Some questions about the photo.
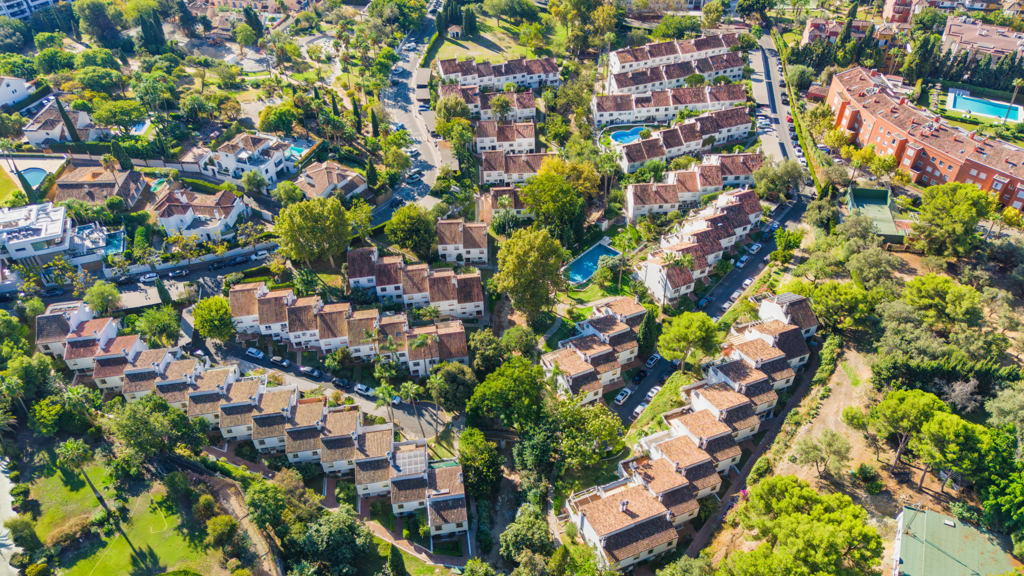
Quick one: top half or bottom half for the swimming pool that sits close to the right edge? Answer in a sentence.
The swimming pool that sits close to the right edge sits in the top half of the picture.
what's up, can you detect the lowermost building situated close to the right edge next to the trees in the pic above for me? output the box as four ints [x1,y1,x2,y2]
[889,506,1024,576]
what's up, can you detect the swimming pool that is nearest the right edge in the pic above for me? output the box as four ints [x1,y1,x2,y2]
[949,93,1022,121]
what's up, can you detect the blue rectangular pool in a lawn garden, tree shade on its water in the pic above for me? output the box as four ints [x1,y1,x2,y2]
[565,241,622,283]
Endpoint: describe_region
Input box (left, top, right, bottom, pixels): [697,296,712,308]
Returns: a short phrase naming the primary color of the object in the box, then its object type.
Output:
blue vehicle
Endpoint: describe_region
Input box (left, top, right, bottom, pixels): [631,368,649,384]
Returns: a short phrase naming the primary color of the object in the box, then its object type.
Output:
black car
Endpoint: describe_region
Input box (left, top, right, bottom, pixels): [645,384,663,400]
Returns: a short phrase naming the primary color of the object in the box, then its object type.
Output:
white car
